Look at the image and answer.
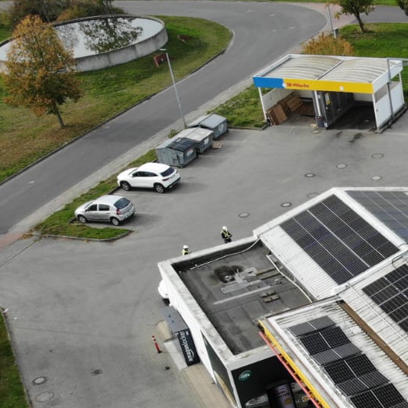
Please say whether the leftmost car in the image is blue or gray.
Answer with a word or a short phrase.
gray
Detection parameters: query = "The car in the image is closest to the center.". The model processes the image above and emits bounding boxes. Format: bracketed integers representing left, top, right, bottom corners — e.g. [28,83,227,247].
[116,163,179,192]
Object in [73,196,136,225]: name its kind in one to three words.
car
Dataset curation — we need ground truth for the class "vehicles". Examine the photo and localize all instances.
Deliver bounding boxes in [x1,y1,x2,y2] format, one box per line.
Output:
[157,283,168,301]
[116,163,179,192]
[73,196,136,225]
